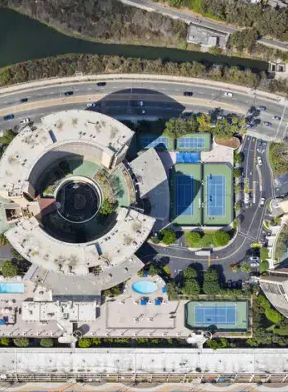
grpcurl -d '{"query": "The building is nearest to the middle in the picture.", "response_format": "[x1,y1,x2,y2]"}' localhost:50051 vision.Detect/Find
[130,147,169,230]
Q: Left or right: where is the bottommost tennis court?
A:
right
